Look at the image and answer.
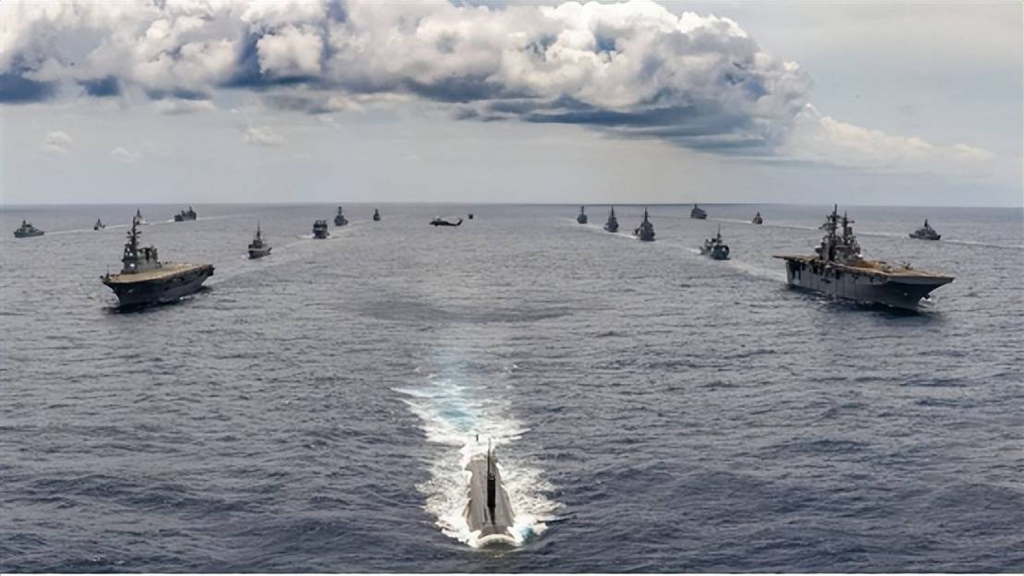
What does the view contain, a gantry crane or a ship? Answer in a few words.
ship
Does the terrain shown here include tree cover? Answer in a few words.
No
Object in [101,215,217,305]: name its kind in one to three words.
ship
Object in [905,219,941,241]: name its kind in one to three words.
ship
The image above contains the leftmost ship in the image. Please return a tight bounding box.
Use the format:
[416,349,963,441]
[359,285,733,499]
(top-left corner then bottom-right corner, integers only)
[12,220,48,238]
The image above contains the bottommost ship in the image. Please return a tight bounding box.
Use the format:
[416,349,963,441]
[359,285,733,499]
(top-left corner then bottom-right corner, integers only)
[464,433,516,530]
